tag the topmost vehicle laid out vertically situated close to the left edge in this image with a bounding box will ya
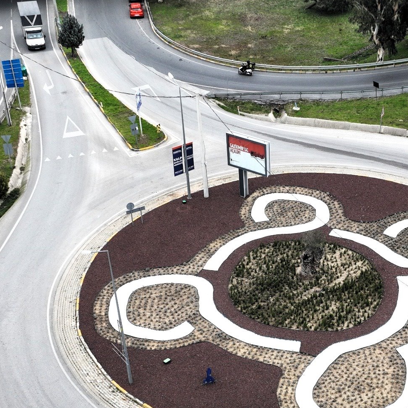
[19,2,45,48]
